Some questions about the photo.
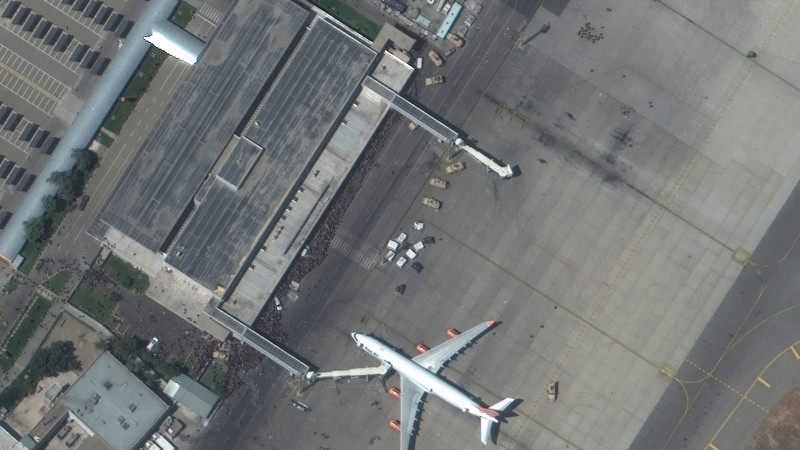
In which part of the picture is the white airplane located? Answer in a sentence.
The white airplane is in the bottom part of the image.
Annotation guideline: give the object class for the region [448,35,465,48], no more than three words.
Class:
vehicle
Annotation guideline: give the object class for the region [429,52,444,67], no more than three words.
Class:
vehicle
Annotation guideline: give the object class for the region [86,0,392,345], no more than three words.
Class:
building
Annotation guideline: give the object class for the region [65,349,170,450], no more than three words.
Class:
building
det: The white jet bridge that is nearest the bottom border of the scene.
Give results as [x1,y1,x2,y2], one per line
[305,359,390,384]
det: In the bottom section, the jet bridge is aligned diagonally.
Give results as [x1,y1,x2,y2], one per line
[203,297,311,378]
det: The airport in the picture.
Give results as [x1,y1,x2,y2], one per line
[259,0,800,450]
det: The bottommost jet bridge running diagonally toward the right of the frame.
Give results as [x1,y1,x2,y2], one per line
[454,137,513,177]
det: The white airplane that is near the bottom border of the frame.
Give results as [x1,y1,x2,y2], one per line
[351,325,514,450]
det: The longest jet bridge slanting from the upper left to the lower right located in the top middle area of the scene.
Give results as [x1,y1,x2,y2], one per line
[361,76,459,146]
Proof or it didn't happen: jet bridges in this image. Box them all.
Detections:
[203,297,311,378]
[454,137,513,177]
[361,76,459,146]
[305,359,390,384]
